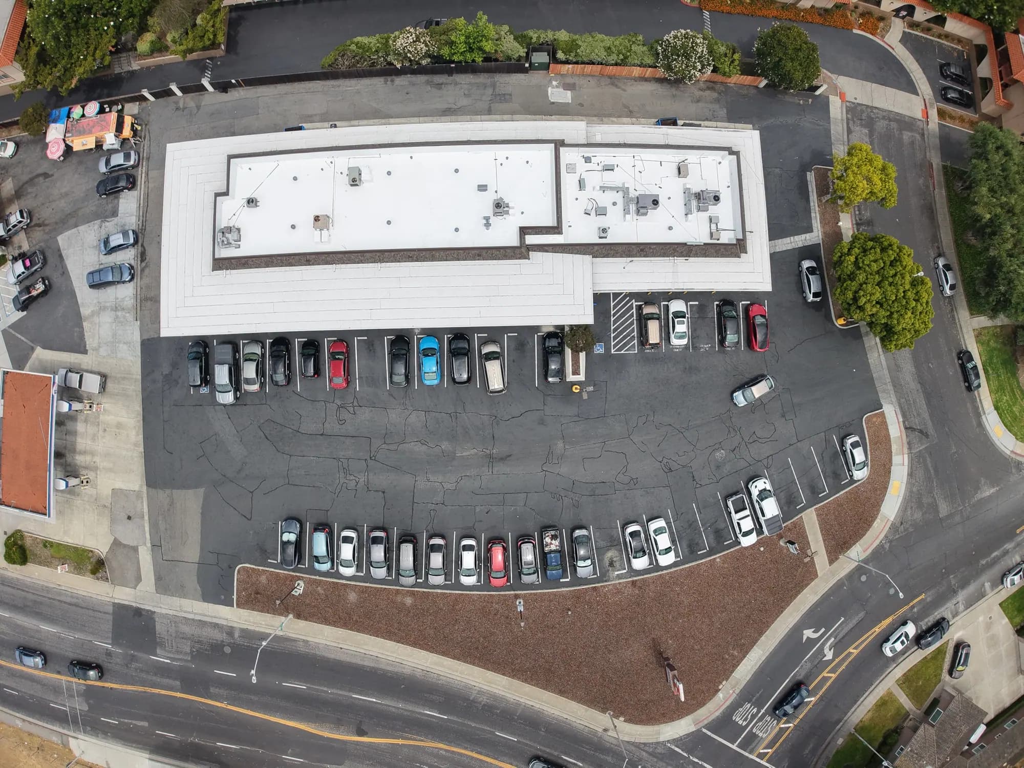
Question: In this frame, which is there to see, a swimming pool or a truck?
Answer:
truck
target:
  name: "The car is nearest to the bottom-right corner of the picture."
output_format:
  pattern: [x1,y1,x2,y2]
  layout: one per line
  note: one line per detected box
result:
[944,639,974,679]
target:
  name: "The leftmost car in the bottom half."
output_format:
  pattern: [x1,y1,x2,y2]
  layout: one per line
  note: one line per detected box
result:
[15,644,51,669]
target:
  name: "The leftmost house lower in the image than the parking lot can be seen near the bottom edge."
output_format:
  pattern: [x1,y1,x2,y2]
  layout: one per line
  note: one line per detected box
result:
[887,690,989,768]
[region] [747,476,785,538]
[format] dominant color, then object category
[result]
white truck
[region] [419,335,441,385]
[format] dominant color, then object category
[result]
blue car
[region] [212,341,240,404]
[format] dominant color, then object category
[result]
gray truck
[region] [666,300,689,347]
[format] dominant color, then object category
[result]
white car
